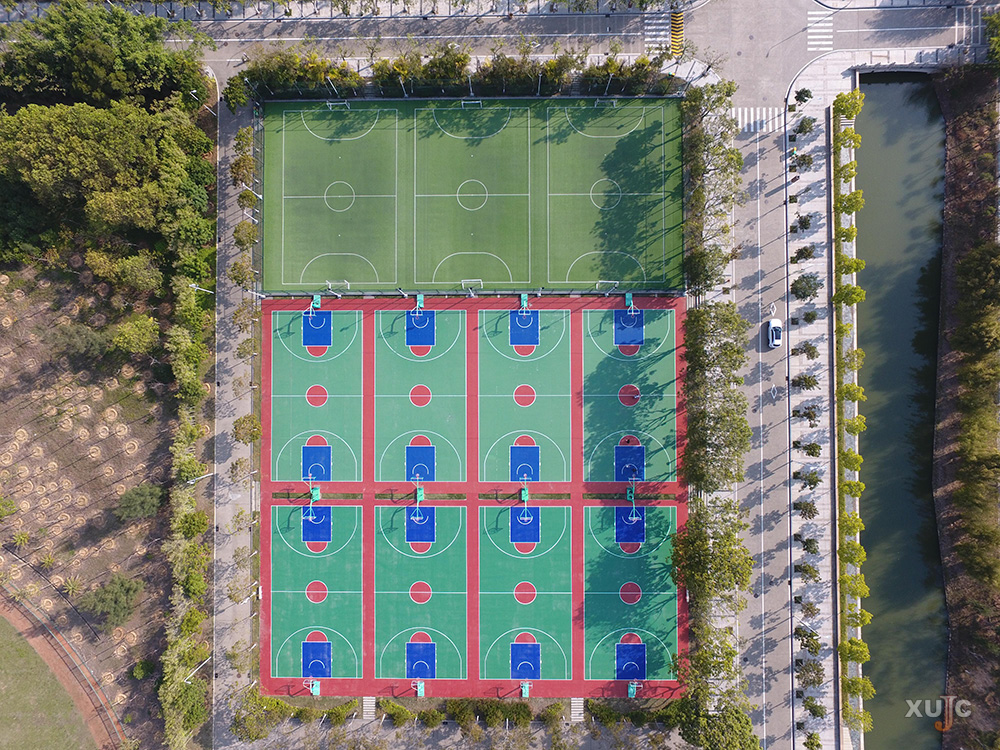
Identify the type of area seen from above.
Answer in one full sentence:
What you see here is a sports ground.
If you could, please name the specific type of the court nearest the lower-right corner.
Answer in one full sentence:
The court nearest the lower-right corner in the image is a basketball court.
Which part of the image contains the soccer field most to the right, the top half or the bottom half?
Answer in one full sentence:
The soccer field most to the right sits in the top half of the picture.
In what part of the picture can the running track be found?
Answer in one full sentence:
The running track is in the bottom left part of the image.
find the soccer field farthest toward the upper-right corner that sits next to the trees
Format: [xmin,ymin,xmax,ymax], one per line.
[539,97,685,290]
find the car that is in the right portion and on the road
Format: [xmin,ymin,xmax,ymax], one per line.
[769,318,784,348]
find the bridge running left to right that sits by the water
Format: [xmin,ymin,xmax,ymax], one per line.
[851,60,970,72]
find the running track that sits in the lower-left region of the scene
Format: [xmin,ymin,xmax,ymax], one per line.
[0,589,121,750]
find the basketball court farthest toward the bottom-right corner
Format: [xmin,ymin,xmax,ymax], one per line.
[577,494,689,694]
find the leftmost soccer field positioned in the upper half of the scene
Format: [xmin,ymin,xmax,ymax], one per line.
[265,99,406,291]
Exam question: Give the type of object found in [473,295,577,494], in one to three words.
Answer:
basketball court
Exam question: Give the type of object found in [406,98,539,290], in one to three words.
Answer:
soccer field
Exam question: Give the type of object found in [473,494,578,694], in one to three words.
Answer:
basketball court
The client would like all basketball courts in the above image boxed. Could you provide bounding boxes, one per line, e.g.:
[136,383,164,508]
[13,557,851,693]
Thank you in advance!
[473,295,577,494]
[260,296,369,494]
[368,494,474,693]
[260,494,369,693]
[576,295,688,494]
[473,494,578,694]
[369,296,473,494]
[577,494,689,694]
